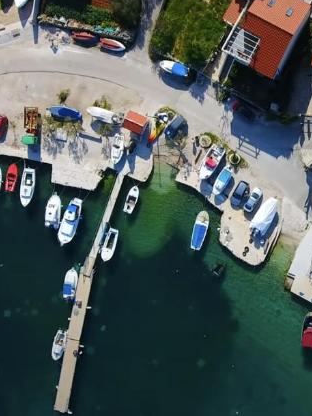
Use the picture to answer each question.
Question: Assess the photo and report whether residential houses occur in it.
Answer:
Yes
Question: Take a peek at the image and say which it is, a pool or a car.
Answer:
car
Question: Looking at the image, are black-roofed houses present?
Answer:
No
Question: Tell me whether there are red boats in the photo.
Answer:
Yes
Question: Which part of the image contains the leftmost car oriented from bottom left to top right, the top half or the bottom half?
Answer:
top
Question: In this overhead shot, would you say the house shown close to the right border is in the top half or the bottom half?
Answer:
top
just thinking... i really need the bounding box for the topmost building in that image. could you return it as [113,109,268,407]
[222,0,245,30]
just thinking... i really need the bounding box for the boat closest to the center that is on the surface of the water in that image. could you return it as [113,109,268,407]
[123,182,142,216]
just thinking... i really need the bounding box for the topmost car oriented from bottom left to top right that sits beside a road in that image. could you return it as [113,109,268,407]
[163,112,187,139]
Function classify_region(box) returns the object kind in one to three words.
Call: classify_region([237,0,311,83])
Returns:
house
